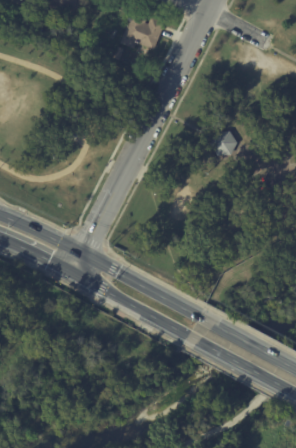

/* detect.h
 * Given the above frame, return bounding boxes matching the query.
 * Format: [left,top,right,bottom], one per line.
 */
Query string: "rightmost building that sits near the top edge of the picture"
[126,20,163,52]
